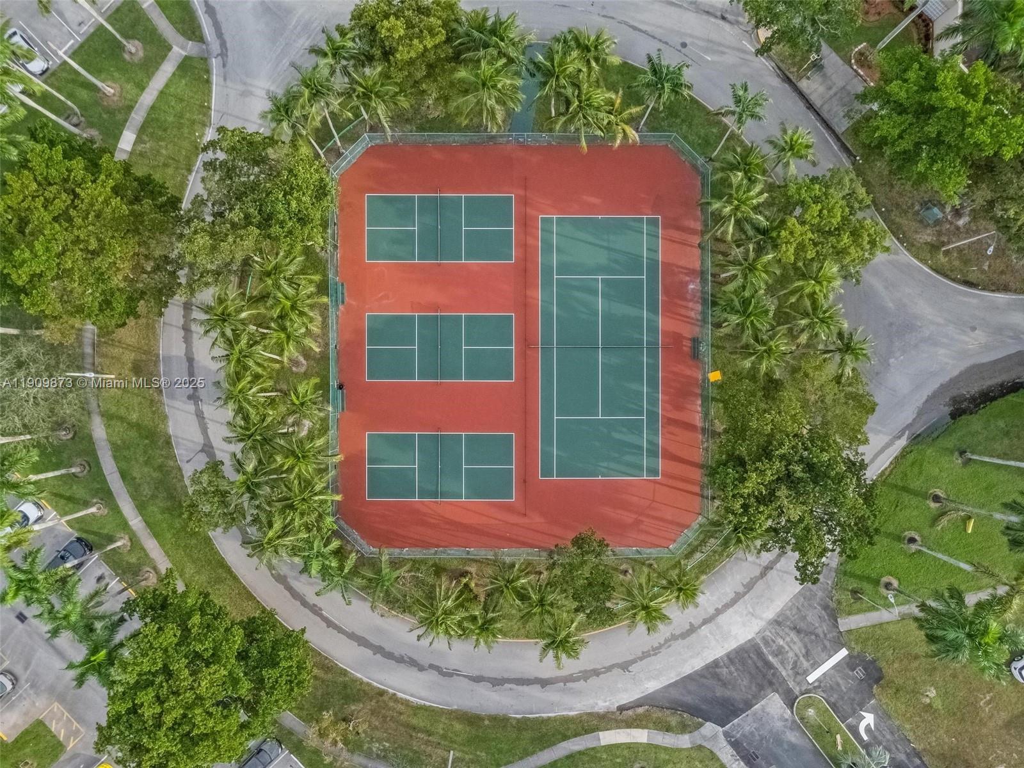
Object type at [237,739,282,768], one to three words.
car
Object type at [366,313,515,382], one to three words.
sports court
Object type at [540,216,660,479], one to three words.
tennis court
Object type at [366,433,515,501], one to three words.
sports court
